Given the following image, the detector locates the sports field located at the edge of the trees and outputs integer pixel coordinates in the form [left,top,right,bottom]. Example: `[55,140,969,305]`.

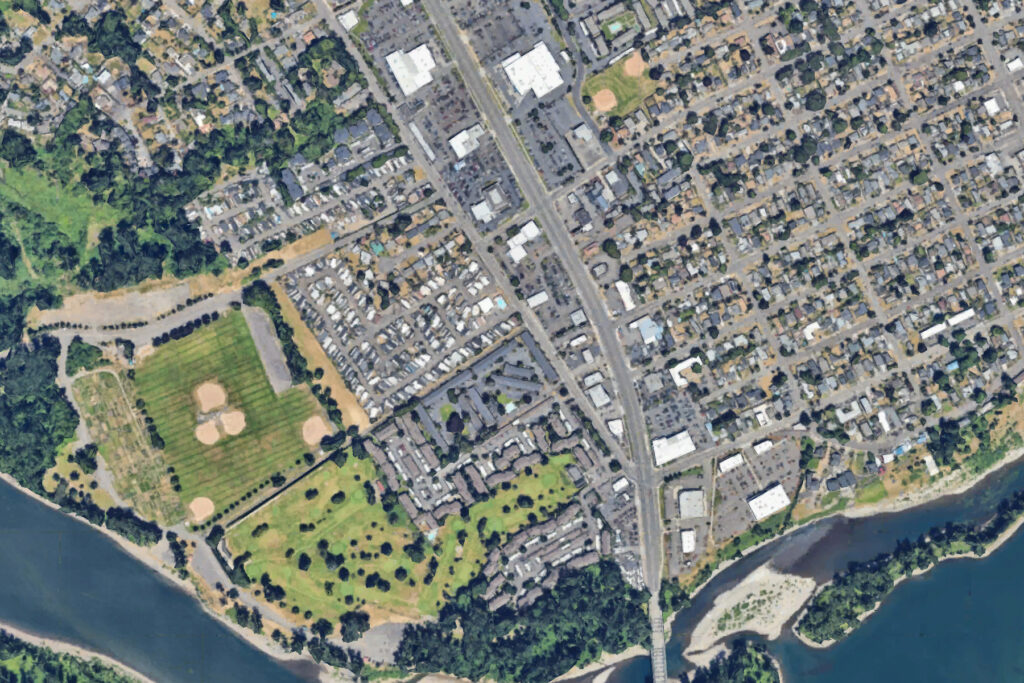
[135,306,335,523]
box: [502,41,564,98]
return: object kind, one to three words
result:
building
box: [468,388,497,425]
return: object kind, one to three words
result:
building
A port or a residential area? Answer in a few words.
residential area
